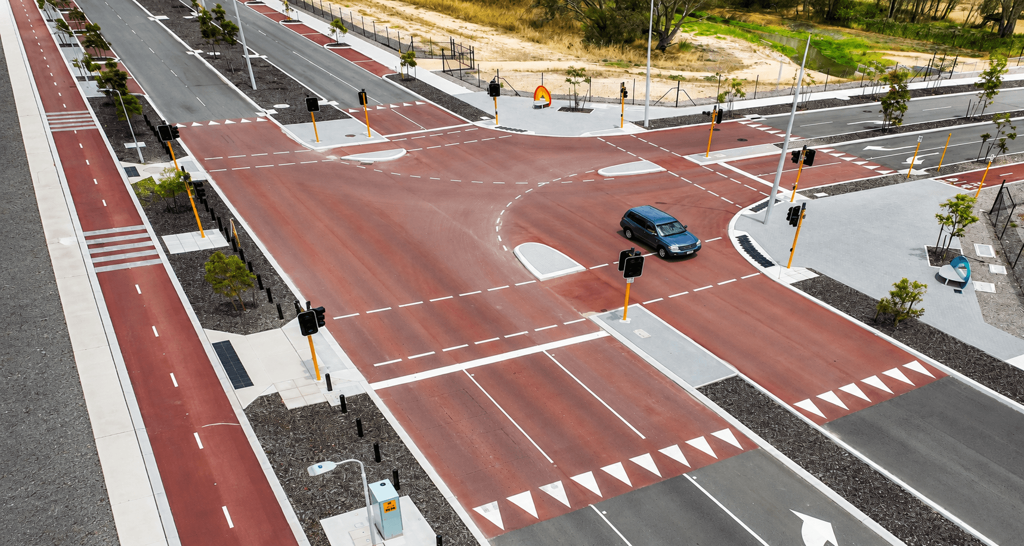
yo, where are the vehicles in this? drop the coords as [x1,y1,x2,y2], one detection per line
[621,202,702,259]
